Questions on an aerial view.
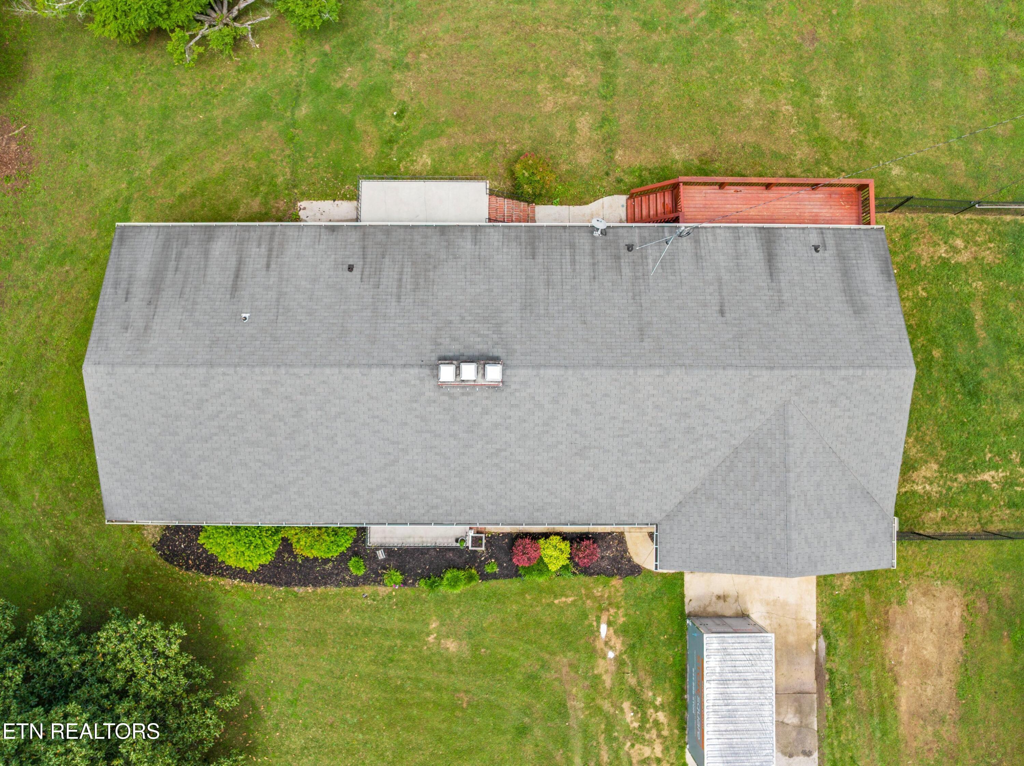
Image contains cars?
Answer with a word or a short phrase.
No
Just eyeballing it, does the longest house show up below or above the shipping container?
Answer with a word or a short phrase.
above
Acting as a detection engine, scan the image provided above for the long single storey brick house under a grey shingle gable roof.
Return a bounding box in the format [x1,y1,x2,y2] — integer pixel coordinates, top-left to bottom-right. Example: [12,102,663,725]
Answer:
[82,222,916,578]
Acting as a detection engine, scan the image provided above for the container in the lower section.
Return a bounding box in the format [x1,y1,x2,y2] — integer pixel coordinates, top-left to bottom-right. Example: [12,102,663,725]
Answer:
[687,617,775,766]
